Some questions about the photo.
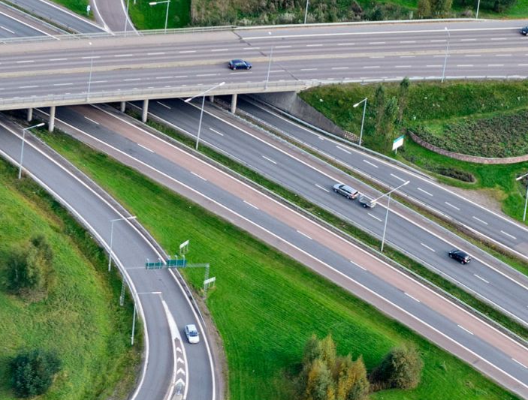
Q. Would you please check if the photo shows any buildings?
No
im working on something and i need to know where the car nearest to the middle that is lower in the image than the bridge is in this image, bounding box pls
[332,183,360,198]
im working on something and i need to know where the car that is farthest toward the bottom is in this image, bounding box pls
[185,324,199,344]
